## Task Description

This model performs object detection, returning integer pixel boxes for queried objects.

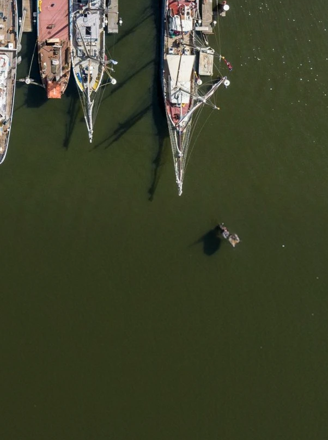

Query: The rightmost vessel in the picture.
[161,0,227,194]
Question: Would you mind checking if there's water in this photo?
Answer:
Yes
